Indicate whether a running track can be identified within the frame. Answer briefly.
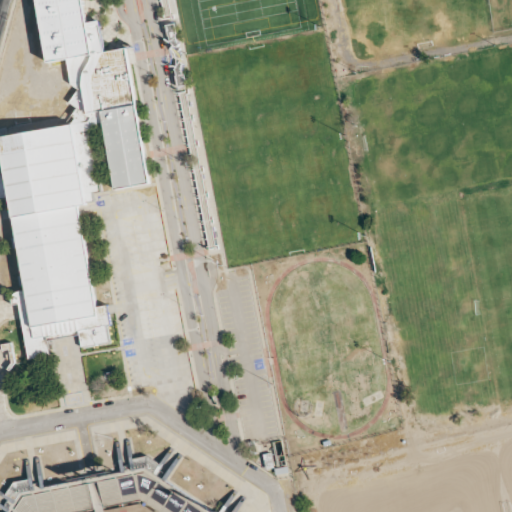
Yes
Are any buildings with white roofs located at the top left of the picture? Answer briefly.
Yes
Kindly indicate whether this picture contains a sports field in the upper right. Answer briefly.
Yes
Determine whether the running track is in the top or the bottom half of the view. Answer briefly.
bottom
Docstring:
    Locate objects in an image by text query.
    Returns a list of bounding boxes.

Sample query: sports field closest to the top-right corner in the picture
[344,0,512,61]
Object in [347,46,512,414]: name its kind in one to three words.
sports field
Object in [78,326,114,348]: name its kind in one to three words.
building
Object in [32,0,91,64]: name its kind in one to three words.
building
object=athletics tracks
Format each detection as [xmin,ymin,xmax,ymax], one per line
[265,258,390,439]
